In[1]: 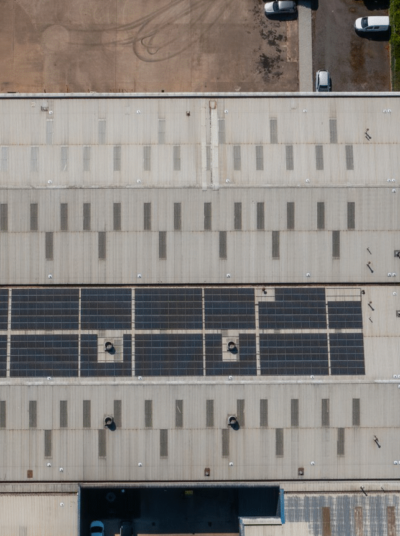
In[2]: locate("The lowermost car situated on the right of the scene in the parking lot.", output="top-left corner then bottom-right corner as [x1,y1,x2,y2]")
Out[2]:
[315,70,330,91]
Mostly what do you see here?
buildings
